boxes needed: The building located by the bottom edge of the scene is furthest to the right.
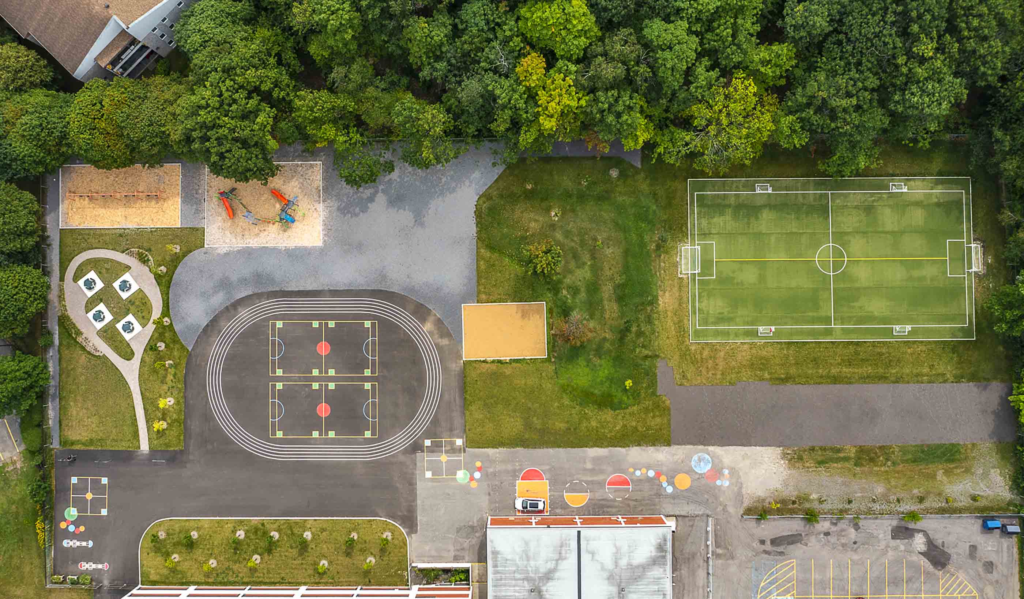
[486,514,680,599]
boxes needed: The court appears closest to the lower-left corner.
[64,477,108,521]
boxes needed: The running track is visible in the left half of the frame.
[206,297,442,461]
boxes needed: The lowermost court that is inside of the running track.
[269,383,378,438]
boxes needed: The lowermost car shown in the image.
[515,496,546,512]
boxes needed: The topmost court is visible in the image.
[269,321,378,376]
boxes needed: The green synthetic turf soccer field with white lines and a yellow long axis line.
[688,177,976,342]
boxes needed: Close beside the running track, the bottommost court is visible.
[424,439,470,483]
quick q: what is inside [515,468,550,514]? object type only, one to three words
basketball court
